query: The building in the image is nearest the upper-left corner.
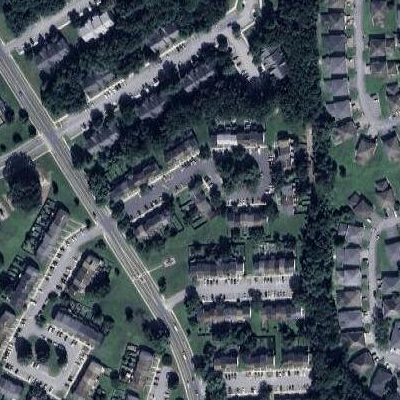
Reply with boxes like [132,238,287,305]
[33,38,70,69]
